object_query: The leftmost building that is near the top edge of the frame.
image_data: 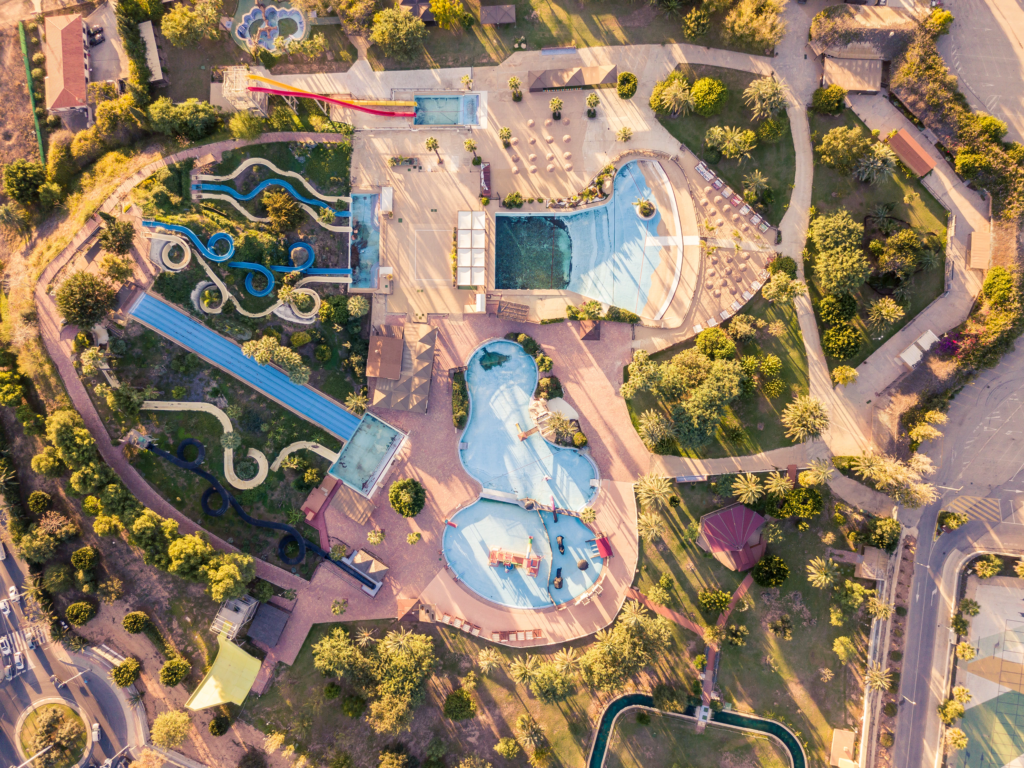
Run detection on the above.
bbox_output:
[44,14,98,117]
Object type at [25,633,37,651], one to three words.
vehicle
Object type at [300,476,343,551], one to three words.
building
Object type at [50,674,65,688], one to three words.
car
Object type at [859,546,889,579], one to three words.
building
